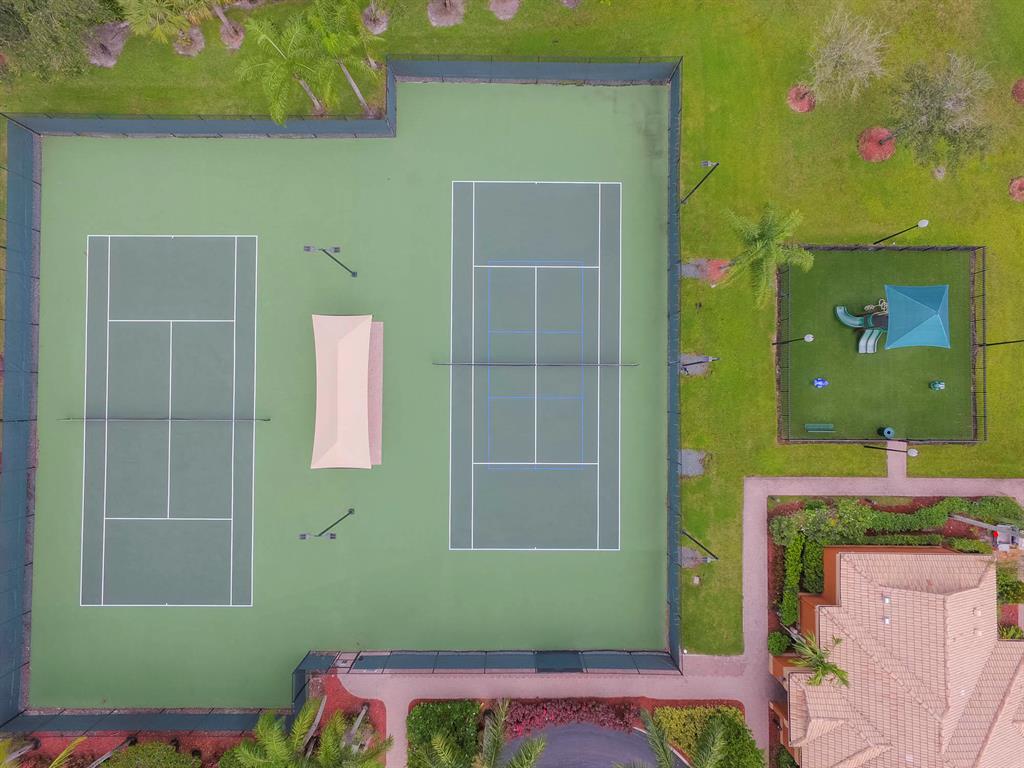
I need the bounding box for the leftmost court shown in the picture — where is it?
[80,235,257,606]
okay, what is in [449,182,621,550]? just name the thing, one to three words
tennis court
